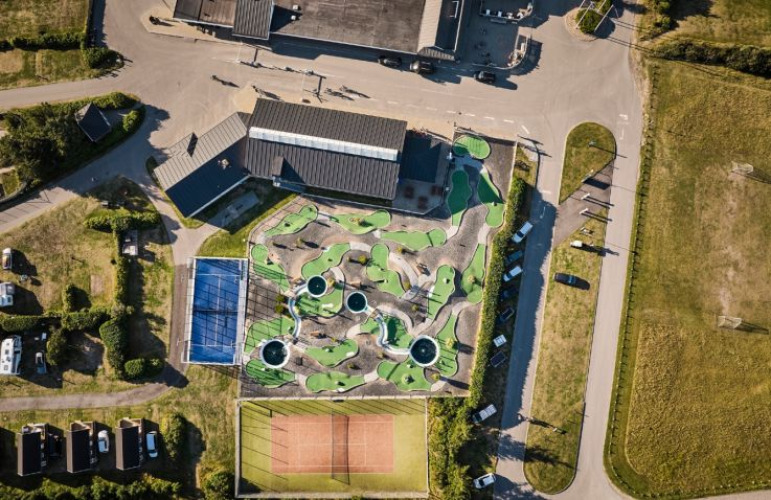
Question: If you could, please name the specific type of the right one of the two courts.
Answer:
tennis court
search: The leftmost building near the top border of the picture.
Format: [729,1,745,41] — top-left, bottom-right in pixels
[173,0,237,32]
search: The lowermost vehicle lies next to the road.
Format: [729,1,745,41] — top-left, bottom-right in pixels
[474,474,499,491]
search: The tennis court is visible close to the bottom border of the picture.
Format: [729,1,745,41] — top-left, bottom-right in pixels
[236,397,434,498]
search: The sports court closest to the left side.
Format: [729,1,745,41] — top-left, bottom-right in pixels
[176,258,248,368]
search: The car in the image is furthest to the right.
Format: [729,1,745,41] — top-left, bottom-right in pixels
[553,272,579,285]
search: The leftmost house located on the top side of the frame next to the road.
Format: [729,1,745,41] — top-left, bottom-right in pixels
[75,102,116,142]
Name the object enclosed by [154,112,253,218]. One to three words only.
building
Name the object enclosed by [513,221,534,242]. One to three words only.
car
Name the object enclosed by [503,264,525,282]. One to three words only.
car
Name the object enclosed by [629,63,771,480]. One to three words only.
soccer field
